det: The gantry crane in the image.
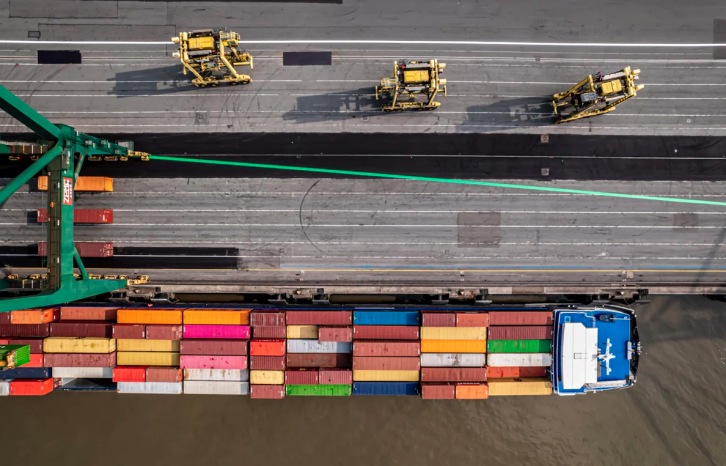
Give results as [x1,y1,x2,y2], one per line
[0,84,149,313]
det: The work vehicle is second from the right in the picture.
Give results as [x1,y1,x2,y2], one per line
[376,61,447,109]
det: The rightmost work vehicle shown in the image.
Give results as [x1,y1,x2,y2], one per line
[549,68,642,126]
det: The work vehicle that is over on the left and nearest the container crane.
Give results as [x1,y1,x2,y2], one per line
[177,32,257,84]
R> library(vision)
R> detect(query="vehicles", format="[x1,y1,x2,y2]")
[376,61,447,109]
[177,32,257,84]
[549,68,642,126]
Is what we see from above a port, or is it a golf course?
port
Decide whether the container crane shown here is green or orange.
green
